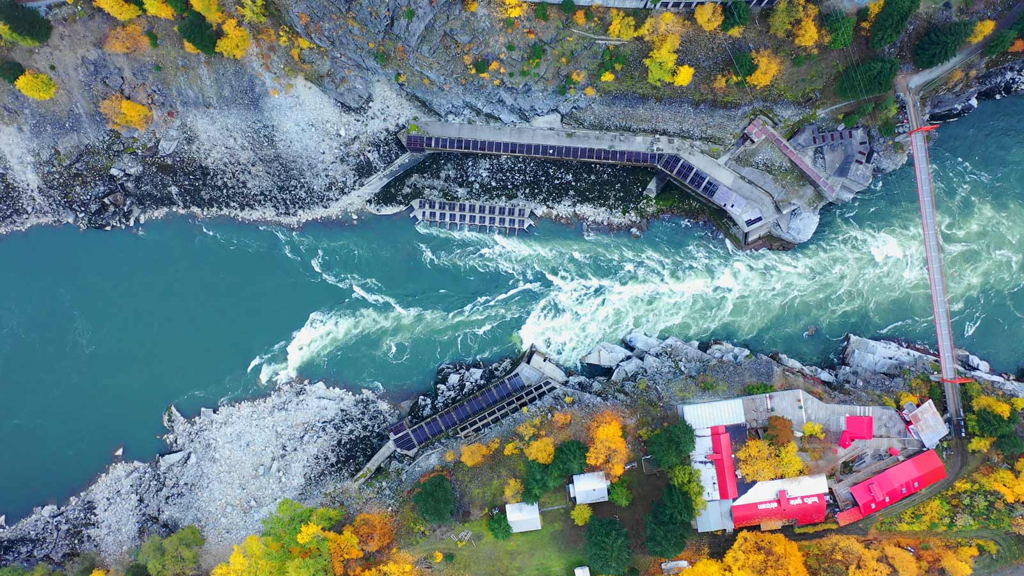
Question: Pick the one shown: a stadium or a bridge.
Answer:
bridge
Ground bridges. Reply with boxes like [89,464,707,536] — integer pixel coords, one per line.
[889,90,975,419]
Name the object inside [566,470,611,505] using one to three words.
shed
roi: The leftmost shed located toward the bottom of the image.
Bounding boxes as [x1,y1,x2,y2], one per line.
[506,499,541,533]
